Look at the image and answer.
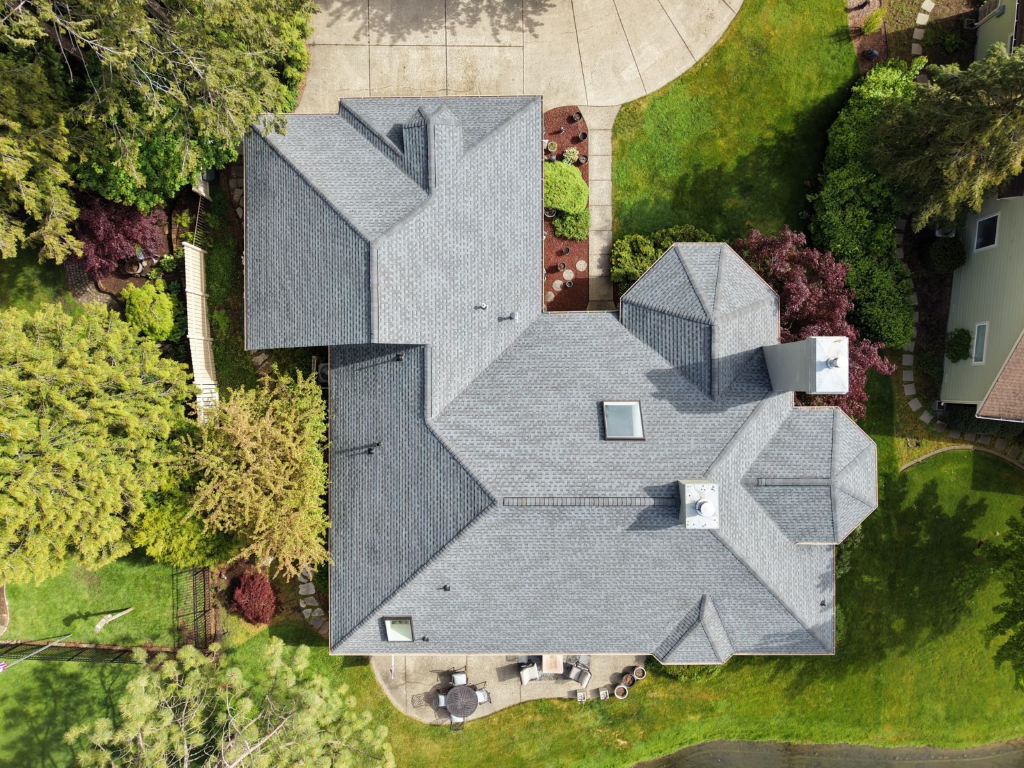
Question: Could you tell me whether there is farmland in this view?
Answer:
No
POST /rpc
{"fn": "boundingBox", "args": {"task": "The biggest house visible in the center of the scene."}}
[244,96,877,664]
